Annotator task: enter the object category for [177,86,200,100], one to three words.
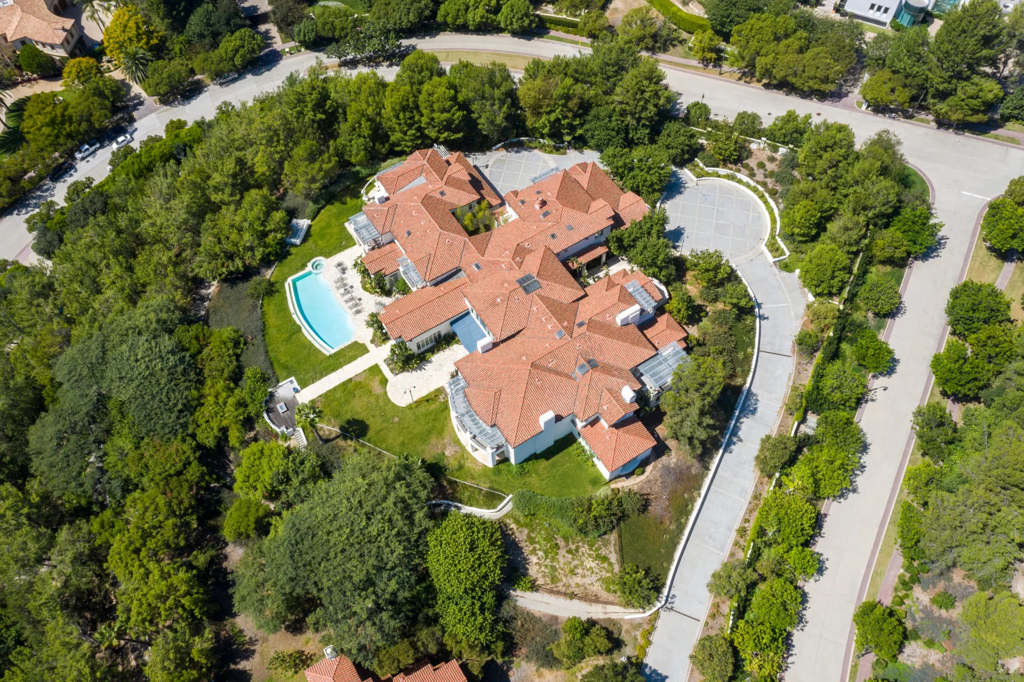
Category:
car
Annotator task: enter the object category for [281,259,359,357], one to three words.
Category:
swimming pool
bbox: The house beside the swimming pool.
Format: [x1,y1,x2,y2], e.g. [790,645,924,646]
[348,137,693,476]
